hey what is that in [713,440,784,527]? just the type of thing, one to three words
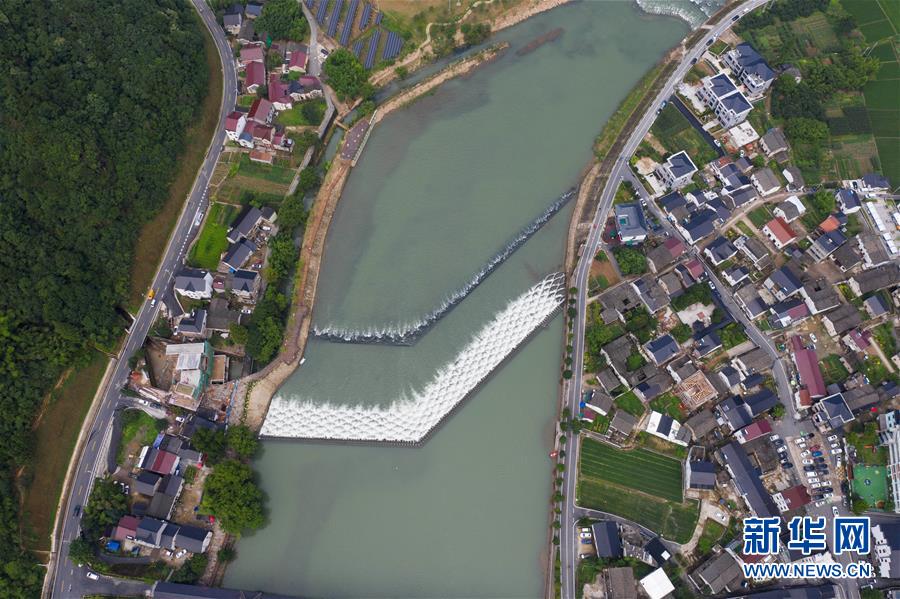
building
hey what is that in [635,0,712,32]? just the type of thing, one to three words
dam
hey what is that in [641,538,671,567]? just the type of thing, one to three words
shed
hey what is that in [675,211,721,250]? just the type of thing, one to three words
house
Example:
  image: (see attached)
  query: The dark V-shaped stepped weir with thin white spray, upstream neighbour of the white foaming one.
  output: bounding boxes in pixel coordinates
[308,177,585,346]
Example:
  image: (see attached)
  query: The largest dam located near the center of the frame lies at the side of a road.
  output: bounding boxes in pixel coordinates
[258,266,566,450]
